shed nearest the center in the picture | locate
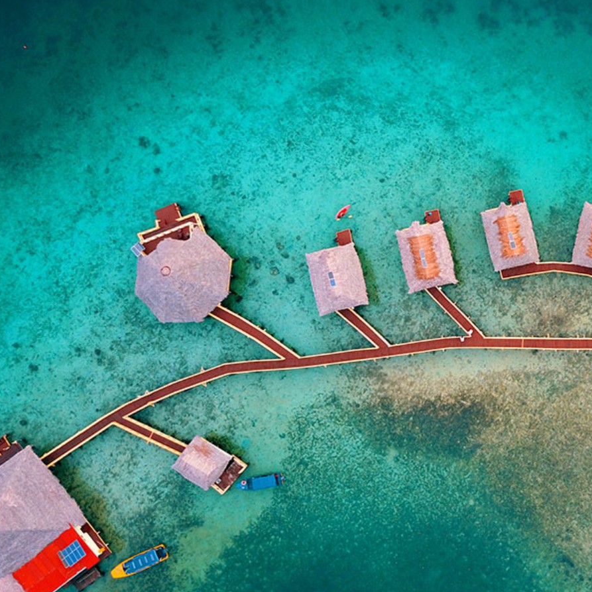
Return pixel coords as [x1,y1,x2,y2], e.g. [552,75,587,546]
[304,228,371,316]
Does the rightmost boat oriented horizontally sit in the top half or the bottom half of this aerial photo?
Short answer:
bottom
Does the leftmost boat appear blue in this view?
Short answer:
Yes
